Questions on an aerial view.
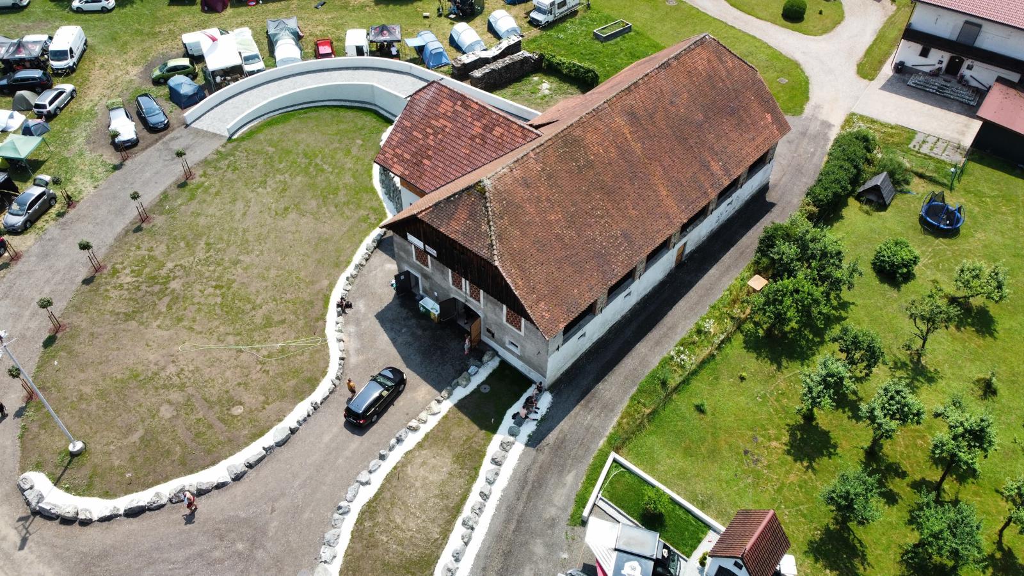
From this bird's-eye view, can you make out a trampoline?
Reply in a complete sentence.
Yes, there's a trampoline here.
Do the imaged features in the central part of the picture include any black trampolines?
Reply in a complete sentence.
No, in the central part of the picture there is no black trampoline.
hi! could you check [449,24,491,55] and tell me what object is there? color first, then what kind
white tent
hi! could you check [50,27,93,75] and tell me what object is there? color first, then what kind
white van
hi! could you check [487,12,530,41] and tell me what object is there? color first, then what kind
white tent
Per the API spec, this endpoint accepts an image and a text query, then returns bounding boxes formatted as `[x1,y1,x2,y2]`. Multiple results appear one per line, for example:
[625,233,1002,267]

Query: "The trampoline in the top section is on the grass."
[915,196,968,244]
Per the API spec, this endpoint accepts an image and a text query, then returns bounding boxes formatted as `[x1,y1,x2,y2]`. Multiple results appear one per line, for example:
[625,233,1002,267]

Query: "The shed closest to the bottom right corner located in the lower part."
[708,508,792,576]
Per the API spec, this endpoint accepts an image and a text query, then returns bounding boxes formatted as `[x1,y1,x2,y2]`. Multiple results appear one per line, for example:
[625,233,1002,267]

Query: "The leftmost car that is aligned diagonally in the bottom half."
[342,368,409,431]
